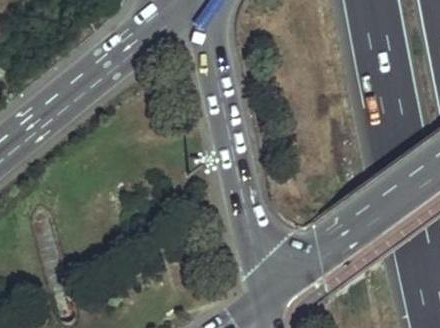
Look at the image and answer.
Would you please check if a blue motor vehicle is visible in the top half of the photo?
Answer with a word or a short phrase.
Yes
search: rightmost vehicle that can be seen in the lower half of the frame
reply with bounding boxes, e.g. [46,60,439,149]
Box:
[288,238,310,252]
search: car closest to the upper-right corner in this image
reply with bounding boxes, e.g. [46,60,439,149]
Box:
[378,52,390,74]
